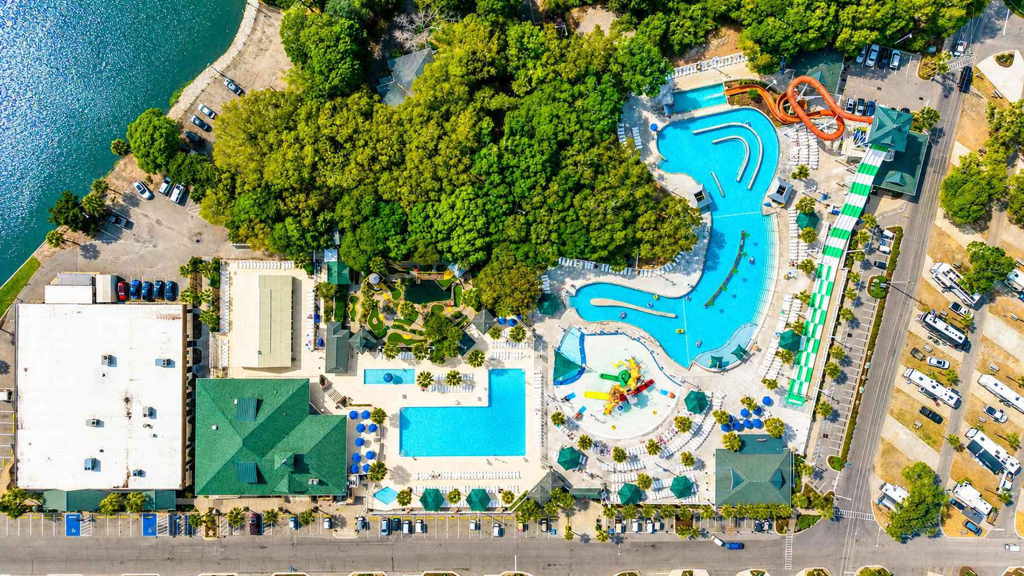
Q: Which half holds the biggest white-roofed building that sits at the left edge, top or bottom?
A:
bottom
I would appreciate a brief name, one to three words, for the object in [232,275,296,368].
building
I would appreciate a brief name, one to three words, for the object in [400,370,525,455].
swimming pool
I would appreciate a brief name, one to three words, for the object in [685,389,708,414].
umbrella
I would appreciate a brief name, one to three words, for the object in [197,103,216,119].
car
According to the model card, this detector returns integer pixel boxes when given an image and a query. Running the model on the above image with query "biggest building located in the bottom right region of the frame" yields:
[714,448,791,506]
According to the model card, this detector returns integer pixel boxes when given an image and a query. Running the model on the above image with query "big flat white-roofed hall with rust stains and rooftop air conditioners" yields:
[16,304,198,515]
